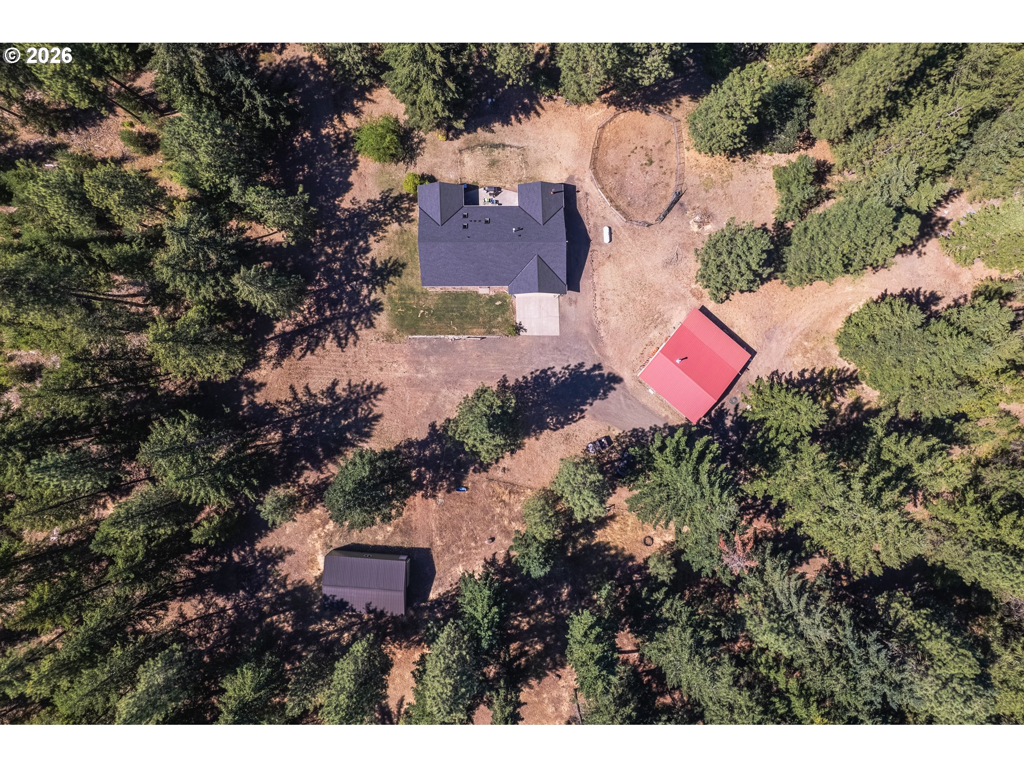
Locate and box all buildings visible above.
[417,181,568,294]
[637,308,752,424]
[320,551,409,615]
